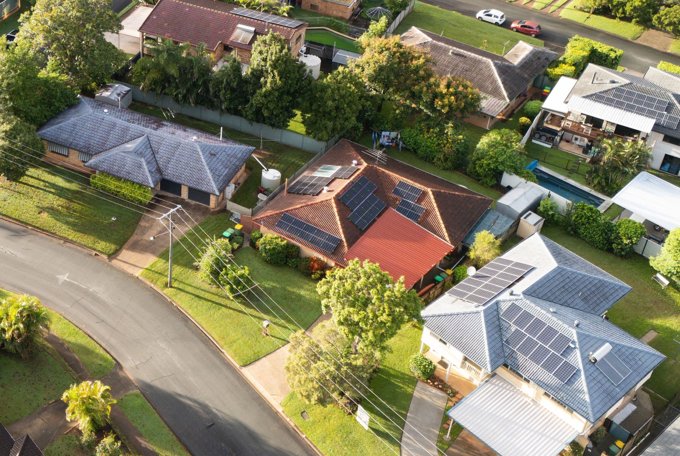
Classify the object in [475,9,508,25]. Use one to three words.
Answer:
car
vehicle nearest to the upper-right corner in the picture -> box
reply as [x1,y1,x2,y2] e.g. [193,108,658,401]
[509,21,544,37]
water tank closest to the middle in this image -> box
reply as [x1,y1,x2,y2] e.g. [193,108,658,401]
[253,155,283,194]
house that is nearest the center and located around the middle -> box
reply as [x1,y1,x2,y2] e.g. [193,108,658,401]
[243,139,496,271]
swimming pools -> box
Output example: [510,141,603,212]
[528,165,601,204]
[308,29,351,54]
